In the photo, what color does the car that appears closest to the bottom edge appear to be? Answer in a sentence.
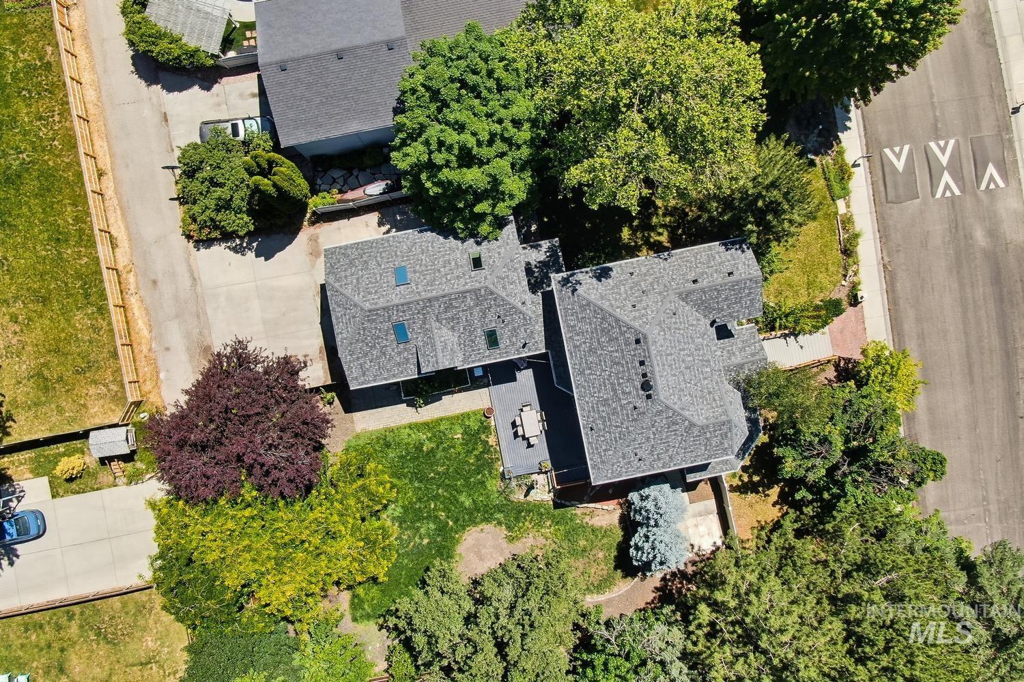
From above, the car that appears closest to the bottom edge appears blue.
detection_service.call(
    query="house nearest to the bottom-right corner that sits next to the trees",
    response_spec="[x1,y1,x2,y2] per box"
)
[539,236,767,486]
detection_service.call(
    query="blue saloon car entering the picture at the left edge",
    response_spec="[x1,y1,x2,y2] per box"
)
[0,507,52,546]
